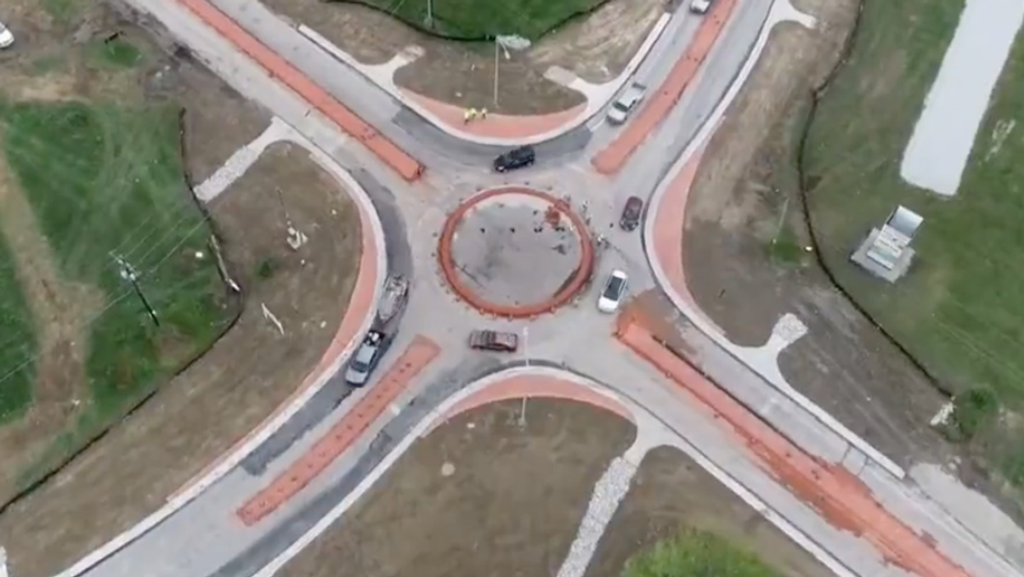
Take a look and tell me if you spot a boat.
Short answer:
Yes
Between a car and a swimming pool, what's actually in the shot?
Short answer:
car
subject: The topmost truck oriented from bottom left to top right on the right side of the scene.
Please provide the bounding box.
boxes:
[611,78,651,124]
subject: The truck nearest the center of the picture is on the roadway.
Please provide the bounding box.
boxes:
[467,331,521,355]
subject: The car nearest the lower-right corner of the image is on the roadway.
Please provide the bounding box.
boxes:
[600,269,627,311]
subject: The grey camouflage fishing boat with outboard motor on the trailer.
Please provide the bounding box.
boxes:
[374,273,408,324]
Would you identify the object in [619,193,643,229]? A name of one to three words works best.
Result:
car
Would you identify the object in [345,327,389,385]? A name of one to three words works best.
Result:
truck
